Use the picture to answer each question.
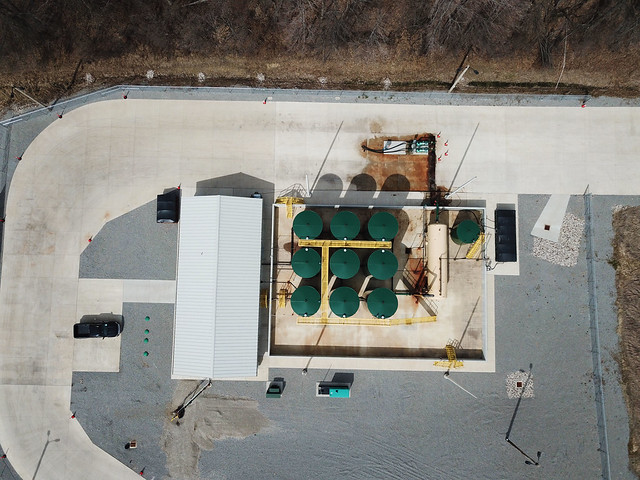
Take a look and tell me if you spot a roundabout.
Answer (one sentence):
No, this view has no roundabout in it.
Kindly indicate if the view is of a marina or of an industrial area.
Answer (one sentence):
It's an industrial area.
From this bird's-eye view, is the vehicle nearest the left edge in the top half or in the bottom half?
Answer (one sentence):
Seen from above, the vehicle nearest the left edge lies in the bottom half of the view.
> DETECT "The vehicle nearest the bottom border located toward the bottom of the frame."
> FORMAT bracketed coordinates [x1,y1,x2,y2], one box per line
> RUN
[73,318,124,338]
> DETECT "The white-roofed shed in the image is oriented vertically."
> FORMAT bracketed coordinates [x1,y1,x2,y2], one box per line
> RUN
[172,194,264,380]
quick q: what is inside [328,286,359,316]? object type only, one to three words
storage tank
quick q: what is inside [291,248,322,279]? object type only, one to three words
storage tank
